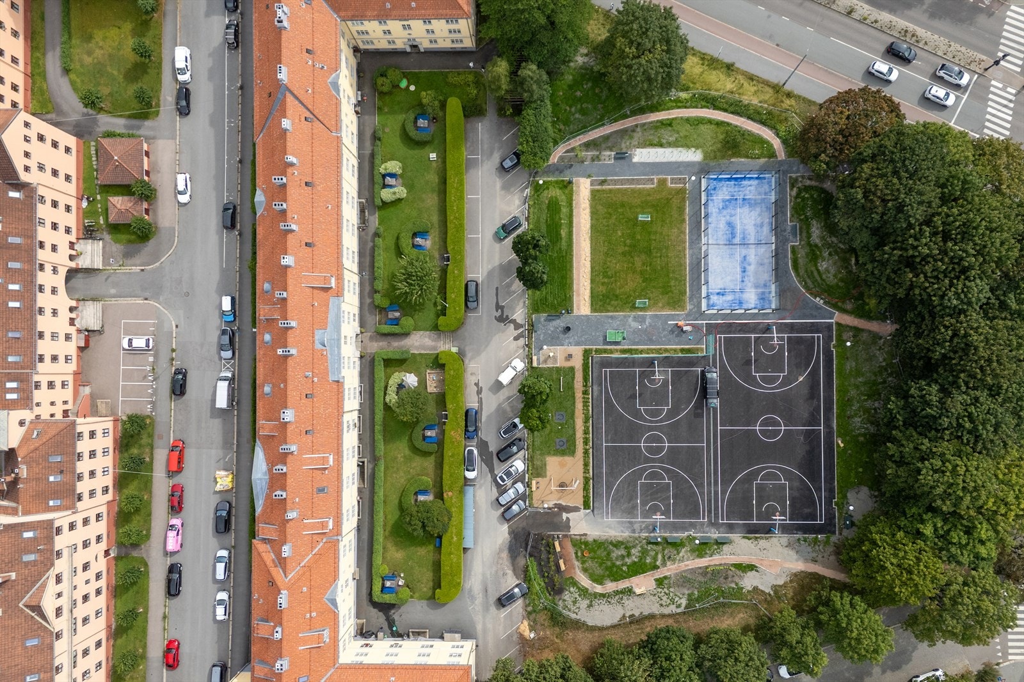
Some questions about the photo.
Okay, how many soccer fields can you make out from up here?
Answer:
1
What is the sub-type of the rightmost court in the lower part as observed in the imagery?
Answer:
basketball court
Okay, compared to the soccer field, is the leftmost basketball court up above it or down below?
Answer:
below it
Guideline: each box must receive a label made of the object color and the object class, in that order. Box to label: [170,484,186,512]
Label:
red car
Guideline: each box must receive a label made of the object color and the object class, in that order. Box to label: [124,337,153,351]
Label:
white car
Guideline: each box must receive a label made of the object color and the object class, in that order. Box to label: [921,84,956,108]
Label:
white car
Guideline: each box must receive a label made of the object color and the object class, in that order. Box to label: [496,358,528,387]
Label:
white truck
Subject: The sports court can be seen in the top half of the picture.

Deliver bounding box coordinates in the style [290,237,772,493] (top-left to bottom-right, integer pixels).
[701,168,782,313]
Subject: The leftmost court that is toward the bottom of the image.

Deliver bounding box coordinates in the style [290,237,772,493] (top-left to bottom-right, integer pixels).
[592,354,712,535]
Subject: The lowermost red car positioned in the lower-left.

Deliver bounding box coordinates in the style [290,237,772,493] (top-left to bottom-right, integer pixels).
[165,639,181,670]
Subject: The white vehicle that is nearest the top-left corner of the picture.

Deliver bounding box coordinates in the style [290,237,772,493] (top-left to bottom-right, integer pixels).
[176,46,192,82]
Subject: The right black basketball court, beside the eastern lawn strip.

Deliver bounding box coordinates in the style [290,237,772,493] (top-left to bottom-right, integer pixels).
[706,322,836,535]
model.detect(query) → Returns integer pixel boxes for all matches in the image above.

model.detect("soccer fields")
[591,178,687,313]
